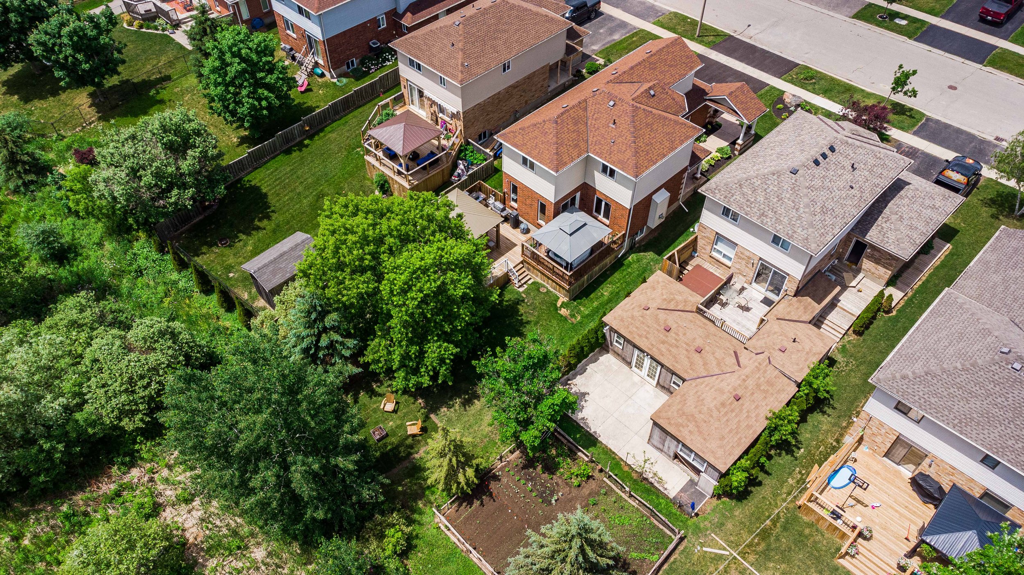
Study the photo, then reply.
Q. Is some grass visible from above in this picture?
Yes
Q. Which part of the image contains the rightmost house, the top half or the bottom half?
bottom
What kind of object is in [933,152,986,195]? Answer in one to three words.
truck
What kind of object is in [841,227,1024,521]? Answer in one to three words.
house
